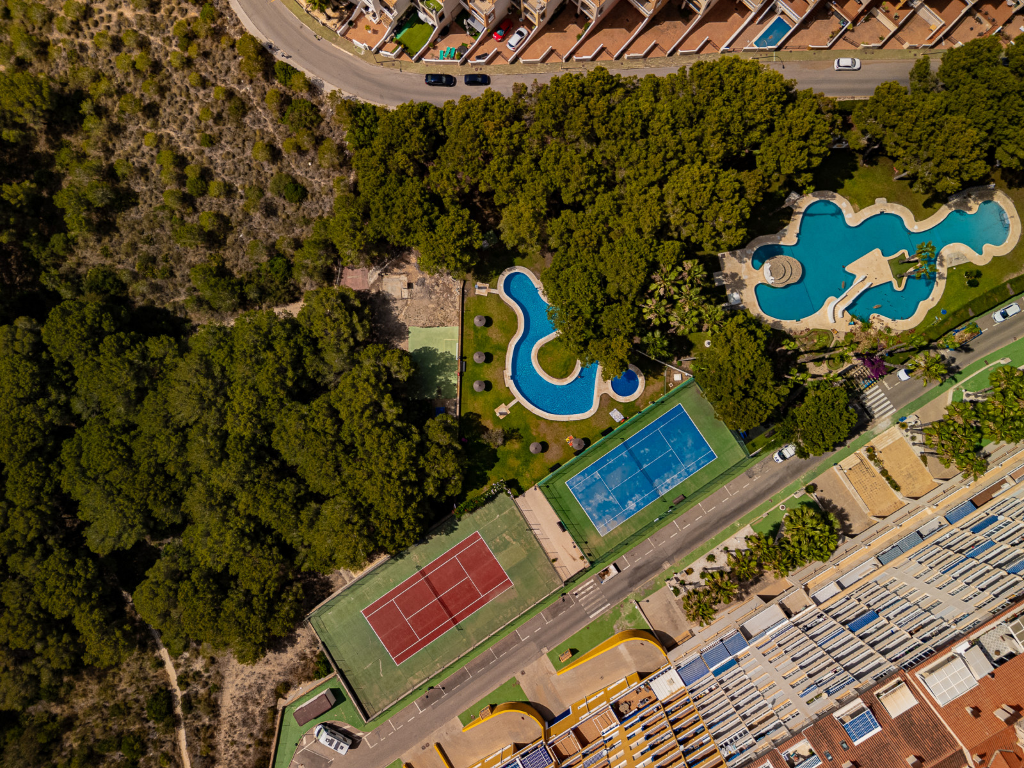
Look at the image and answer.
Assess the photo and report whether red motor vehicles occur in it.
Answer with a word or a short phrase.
Yes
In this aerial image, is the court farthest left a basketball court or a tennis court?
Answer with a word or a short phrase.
tennis court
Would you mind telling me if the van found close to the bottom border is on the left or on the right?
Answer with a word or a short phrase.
left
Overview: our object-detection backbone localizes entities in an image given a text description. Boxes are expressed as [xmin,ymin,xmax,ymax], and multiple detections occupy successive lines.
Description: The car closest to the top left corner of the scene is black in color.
[425,71,454,86]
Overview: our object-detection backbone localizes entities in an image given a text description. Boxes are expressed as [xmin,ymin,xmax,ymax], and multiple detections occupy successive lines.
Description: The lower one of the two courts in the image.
[310,491,562,719]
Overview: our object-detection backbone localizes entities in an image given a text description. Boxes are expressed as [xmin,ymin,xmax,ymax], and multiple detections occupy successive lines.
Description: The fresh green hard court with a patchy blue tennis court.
[540,381,748,565]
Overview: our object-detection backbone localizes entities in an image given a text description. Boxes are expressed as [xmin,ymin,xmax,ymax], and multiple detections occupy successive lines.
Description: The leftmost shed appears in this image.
[289,689,335,732]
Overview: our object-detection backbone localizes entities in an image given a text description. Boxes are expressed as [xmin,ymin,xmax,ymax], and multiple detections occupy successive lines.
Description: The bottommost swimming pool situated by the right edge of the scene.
[713,189,1022,333]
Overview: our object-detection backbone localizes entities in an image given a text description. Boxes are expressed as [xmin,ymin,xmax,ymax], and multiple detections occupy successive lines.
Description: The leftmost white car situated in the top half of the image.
[506,24,529,49]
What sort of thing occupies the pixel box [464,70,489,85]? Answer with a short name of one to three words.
car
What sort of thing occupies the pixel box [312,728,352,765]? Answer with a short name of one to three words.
van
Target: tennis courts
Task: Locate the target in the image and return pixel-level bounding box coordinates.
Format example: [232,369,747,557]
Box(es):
[310,491,562,719]
[540,381,748,565]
